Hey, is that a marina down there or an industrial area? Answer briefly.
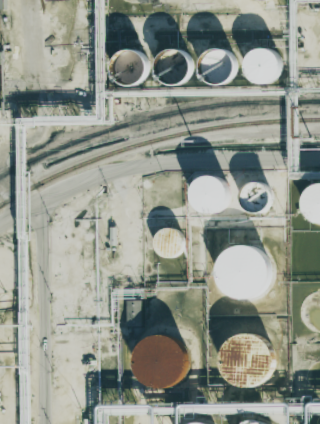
industrial area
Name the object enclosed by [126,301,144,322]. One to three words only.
building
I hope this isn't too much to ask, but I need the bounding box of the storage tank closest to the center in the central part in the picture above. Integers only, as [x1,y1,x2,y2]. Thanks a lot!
[152,226,188,262]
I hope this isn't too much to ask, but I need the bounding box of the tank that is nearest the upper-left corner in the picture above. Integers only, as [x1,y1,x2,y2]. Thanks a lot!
[108,48,152,89]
